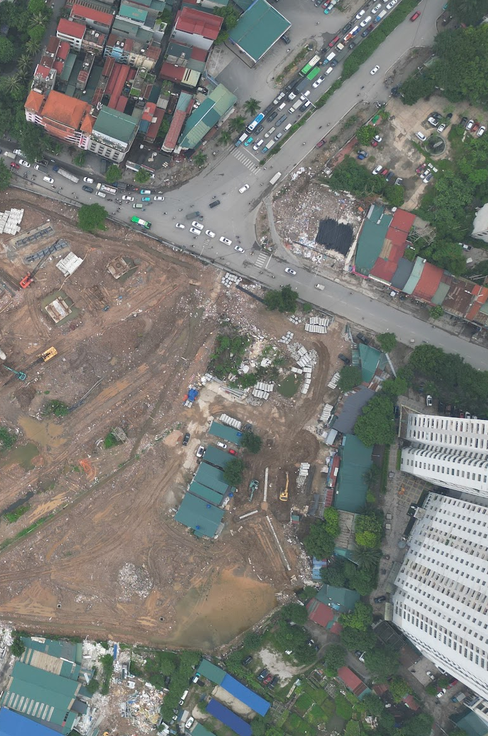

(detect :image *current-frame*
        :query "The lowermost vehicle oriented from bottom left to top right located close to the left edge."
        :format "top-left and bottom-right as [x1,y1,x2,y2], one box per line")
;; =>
[21,345,61,376]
